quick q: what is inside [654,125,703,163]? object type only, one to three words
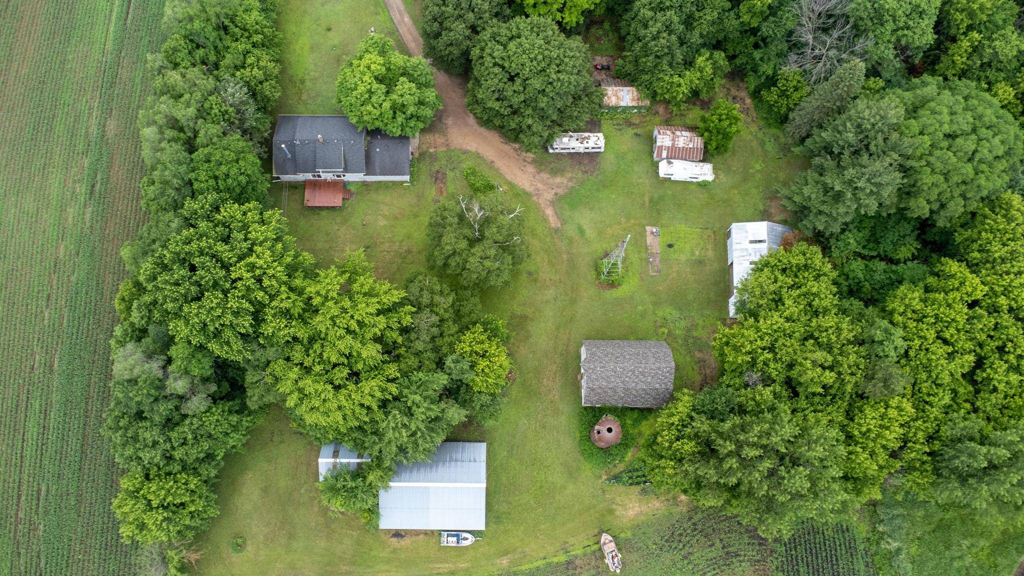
shed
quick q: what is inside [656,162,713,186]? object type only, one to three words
trailer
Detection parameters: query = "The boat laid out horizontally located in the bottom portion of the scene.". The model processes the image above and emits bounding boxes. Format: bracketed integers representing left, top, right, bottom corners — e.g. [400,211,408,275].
[441,531,474,546]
